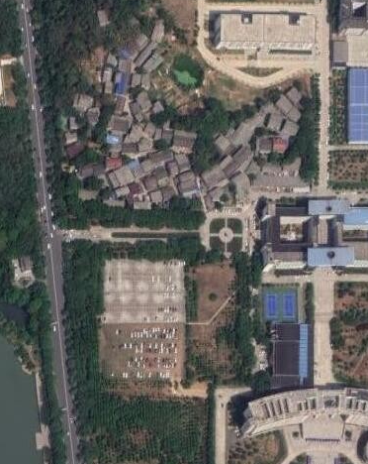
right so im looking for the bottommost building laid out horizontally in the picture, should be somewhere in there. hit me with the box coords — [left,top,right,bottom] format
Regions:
[238,387,368,442]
